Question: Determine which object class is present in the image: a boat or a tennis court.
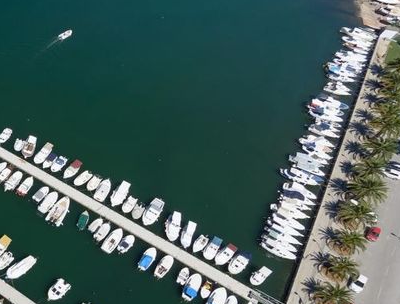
boat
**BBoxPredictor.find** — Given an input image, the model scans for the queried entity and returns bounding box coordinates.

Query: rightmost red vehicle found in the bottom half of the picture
[366,224,380,242]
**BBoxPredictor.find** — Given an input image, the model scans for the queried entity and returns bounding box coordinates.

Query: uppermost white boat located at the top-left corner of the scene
[55,29,72,42]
